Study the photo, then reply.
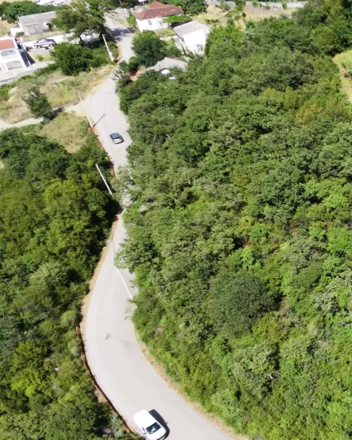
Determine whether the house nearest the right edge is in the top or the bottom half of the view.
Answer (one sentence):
You can find the house nearest the right edge in the top half.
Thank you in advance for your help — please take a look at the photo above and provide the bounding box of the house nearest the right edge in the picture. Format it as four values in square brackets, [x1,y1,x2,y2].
[171,8,221,52]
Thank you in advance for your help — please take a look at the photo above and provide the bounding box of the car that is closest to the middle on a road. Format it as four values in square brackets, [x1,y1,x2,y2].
[106,129,124,144]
